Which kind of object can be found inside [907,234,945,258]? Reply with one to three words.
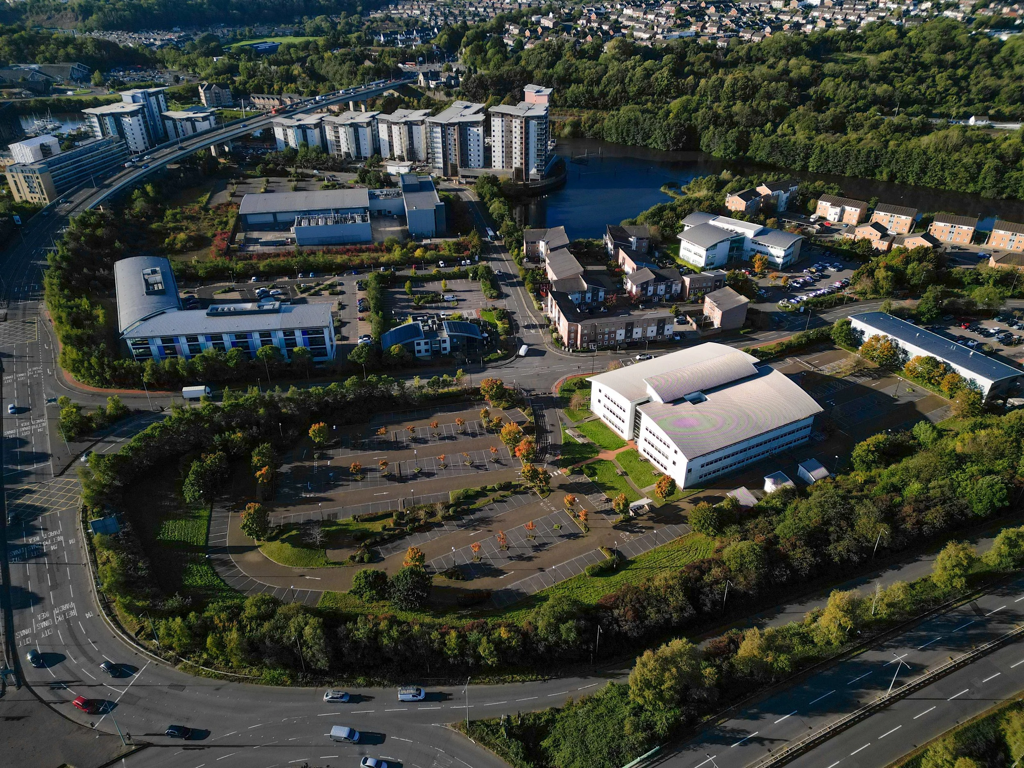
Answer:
house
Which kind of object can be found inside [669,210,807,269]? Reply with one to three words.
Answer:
building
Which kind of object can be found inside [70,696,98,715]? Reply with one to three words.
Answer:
car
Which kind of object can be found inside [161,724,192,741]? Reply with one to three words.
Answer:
car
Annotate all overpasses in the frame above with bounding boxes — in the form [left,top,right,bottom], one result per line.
[15,78,414,236]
